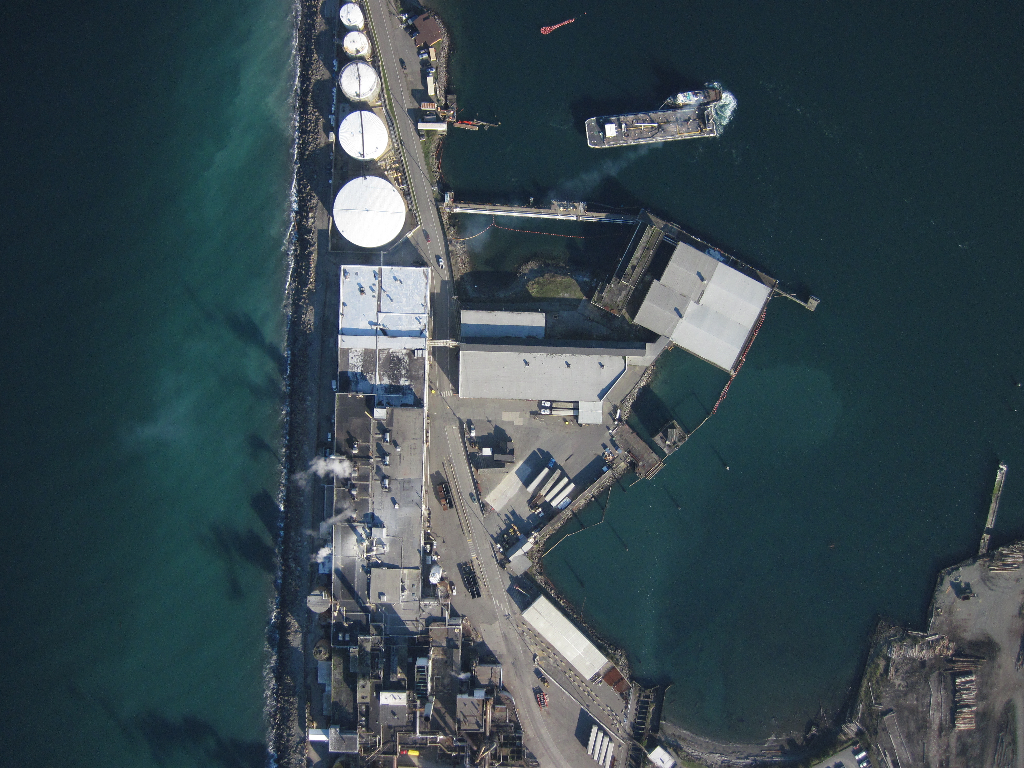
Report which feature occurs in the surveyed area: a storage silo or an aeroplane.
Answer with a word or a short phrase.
storage silo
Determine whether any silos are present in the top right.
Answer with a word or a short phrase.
No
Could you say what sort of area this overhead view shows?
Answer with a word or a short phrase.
port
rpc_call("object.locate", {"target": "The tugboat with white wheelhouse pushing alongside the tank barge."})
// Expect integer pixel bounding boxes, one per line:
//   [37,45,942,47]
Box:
[663,89,722,108]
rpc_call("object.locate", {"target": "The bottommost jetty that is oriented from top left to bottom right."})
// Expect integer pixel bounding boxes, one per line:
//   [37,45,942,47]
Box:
[611,423,662,477]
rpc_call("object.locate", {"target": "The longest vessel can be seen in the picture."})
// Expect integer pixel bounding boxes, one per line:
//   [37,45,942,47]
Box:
[585,105,716,149]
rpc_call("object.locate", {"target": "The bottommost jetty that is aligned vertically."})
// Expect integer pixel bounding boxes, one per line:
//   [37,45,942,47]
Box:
[979,465,1006,554]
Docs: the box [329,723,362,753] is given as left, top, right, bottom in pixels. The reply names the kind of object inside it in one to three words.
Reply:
building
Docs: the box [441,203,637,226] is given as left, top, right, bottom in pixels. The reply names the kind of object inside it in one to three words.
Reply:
pier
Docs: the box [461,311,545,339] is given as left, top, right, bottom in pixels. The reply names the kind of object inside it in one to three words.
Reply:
building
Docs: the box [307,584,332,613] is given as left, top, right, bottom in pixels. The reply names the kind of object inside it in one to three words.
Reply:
silo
